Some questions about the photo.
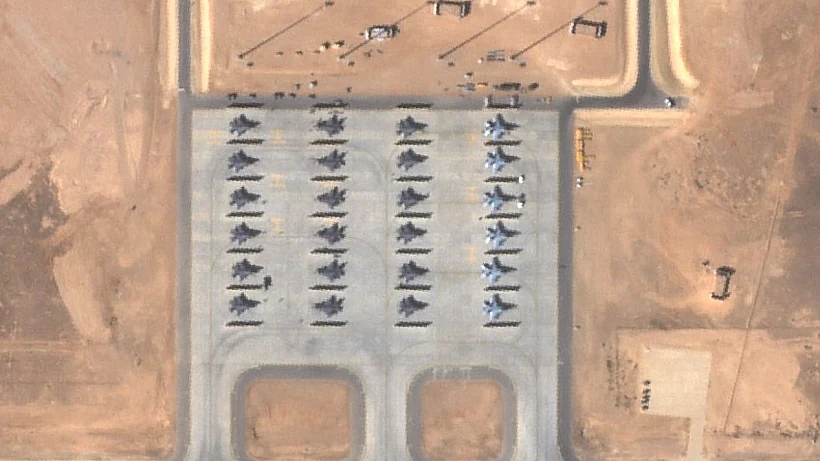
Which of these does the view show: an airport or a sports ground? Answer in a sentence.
The picture captures an airport.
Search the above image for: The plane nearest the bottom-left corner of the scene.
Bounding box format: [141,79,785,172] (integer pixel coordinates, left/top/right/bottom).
[229,298,255,315]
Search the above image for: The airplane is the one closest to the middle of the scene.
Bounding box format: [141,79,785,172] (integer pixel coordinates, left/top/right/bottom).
[397,225,423,243]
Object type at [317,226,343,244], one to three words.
airplane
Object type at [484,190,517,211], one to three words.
airplane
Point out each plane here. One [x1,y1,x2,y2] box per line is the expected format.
[230,118,255,135]
[484,190,517,211]
[484,117,517,139]
[229,298,255,315]
[399,299,424,316]
[397,153,423,170]
[485,150,518,171]
[317,153,342,171]
[317,226,343,244]
[486,225,518,247]
[481,263,514,284]
[398,190,423,209]
[317,190,343,208]
[483,298,516,319]
[316,118,341,135]
[231,190,255,208]
[231,226,257,245]
[316,299,341,316]
[397,225,423,243]
[396,118,422,136]
[399,263,424,281]
[229,154,255,172]
[232,262,257,280]
[317,263,343,280]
